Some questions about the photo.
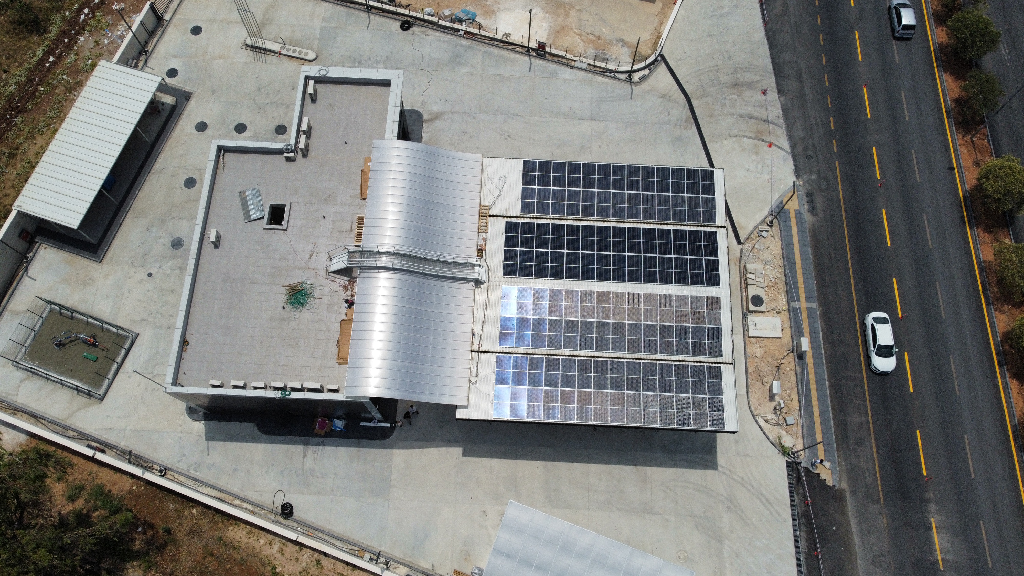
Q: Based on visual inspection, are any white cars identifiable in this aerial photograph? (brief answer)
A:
Yes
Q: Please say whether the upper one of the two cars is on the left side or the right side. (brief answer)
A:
right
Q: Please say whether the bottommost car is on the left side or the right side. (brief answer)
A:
right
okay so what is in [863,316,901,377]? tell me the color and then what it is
white car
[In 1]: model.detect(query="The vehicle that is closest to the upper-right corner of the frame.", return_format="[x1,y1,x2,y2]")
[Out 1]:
[890,0,921,35]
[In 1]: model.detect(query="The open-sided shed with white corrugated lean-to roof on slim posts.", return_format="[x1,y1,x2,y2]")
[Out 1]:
[12,60,172,244]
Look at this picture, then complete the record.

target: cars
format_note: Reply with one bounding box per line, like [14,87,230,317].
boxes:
[863,316,901,377]
[890,0,921,35]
